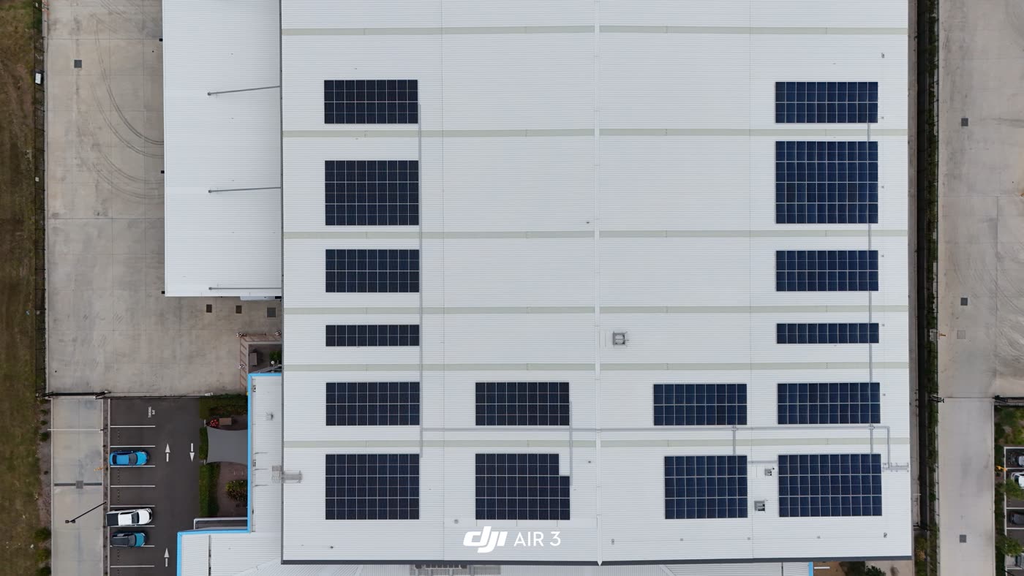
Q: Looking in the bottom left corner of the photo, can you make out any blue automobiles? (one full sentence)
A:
Yes, the scene does show a blue automobile in the bottom left corner of the photo.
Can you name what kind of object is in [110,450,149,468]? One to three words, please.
car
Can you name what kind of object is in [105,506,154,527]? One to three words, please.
truck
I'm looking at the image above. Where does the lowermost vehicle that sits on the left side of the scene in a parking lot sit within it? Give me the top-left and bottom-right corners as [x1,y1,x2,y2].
[109,531,146,551]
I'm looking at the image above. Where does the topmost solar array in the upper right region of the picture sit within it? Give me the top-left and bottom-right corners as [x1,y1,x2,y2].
[775,82,878,123]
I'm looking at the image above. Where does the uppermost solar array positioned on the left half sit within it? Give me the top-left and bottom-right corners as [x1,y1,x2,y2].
[324,78,419,124]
